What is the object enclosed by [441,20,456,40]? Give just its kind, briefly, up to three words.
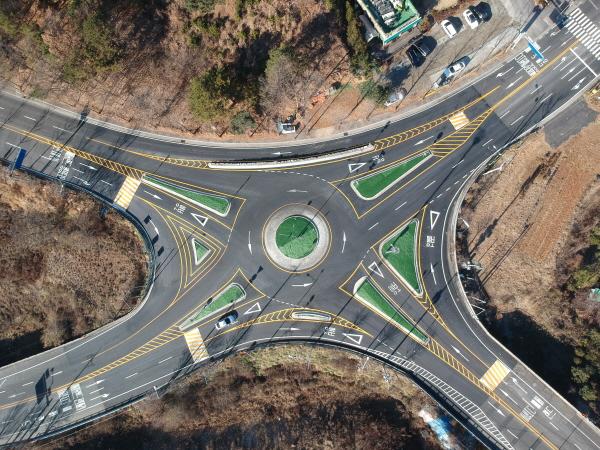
car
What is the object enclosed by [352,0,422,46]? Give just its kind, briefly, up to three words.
building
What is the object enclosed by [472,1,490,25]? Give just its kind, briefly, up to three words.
car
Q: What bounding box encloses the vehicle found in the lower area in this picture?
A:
[214,311,238,330]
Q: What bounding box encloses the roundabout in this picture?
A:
[142,142,432,344]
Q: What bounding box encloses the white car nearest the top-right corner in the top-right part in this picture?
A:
[462,8,480,30]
